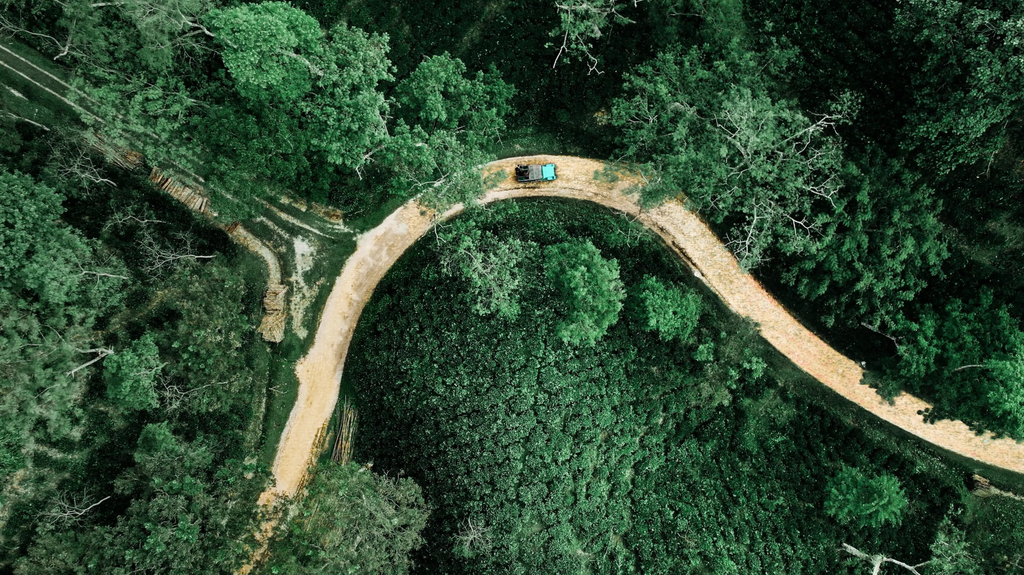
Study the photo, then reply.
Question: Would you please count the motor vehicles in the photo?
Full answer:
The count comes to 1 motor vehicle.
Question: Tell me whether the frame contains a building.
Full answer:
No, there appears to be no building in this shot.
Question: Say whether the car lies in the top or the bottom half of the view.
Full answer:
Seen from above, the car lies in the top half of the view.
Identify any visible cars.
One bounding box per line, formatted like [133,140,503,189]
[515,161,558,181]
